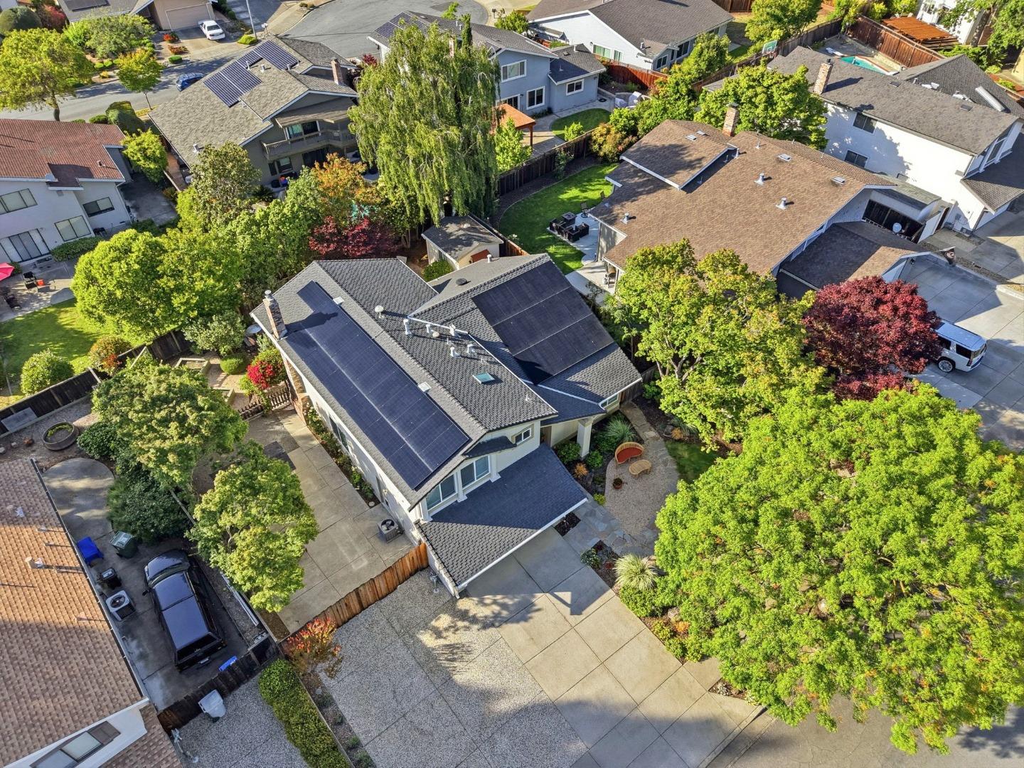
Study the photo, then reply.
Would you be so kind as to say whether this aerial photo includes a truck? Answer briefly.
Yes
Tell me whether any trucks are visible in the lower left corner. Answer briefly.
Yes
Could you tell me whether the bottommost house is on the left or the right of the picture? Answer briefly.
left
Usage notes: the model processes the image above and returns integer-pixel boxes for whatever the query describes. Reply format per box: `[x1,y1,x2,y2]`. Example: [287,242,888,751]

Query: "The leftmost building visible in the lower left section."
[0,453,185,768]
